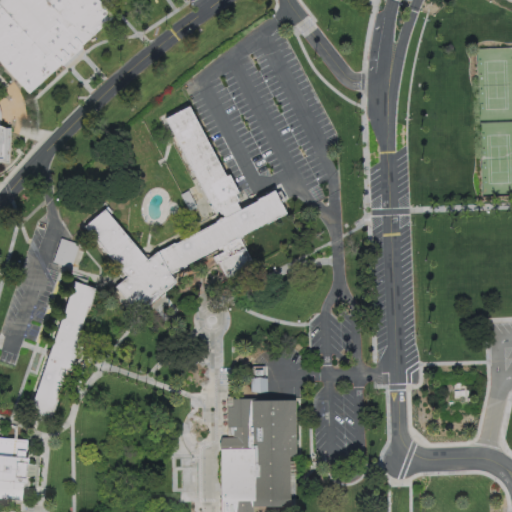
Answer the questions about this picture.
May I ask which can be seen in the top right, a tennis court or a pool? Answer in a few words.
tennis court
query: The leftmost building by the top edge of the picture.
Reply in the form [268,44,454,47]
[0,0,107,94]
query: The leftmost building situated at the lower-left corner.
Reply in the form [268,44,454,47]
[0,436,30,501]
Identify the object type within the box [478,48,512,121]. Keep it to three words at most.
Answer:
tennis court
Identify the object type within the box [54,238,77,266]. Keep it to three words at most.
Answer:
building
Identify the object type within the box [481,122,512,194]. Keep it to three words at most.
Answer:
tennis court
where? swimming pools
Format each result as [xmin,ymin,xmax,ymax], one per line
[142,187,178,224]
